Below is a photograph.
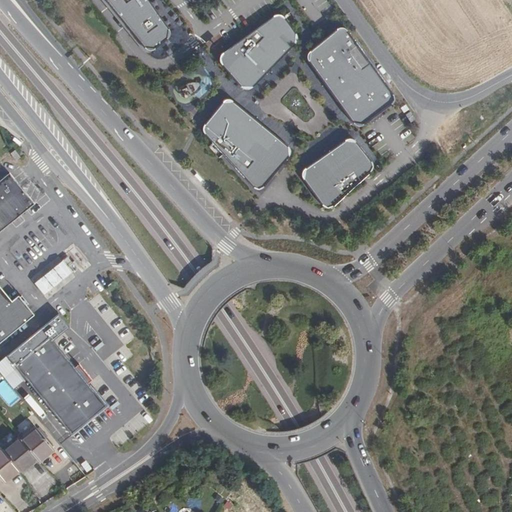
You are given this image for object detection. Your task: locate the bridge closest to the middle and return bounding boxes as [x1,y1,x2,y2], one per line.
[164,252,249,352]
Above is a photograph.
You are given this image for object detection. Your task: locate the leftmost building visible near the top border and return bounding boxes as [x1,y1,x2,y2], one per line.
[108,0,170,50]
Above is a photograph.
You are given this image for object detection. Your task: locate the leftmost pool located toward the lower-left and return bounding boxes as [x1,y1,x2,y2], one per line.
[0,378,22,408]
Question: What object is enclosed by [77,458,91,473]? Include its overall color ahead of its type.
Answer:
white vehicle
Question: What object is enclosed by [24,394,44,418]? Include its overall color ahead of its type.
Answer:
white vehicle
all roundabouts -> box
[172,252,382,462]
